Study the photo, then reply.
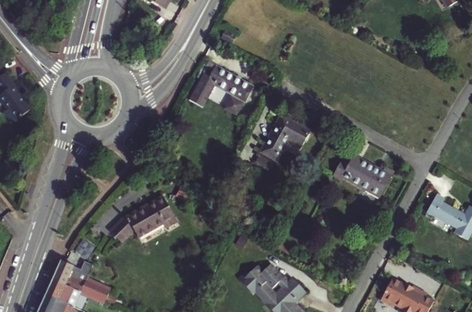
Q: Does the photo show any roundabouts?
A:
Yes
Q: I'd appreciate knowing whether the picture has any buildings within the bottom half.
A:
Yes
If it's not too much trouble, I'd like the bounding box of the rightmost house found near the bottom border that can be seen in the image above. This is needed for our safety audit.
[374,278,434,312]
